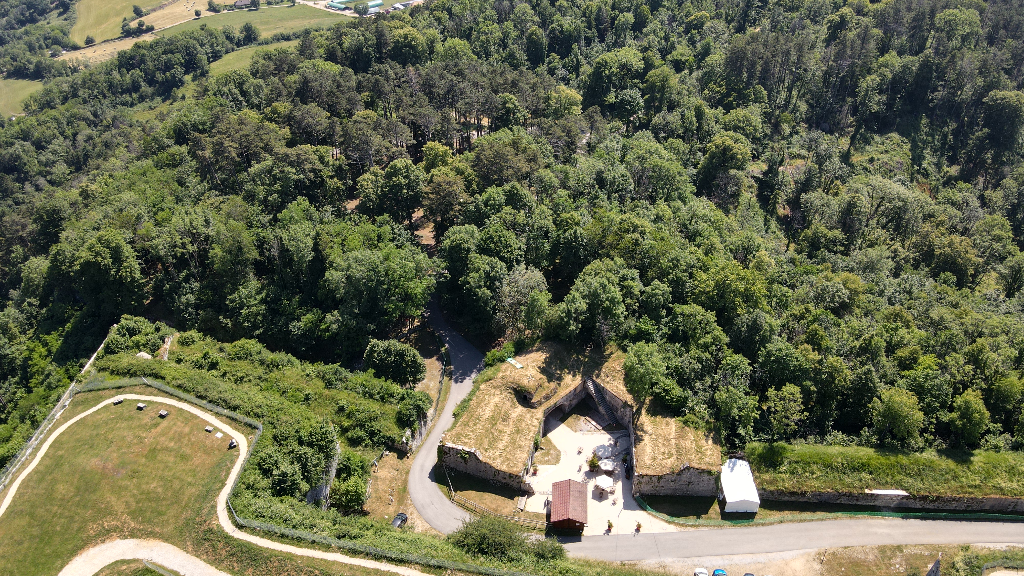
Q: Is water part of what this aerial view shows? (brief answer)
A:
No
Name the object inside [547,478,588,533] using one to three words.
shed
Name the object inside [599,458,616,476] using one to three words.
umbrella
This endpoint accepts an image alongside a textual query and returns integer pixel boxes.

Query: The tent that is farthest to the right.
[720,461,760,512]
